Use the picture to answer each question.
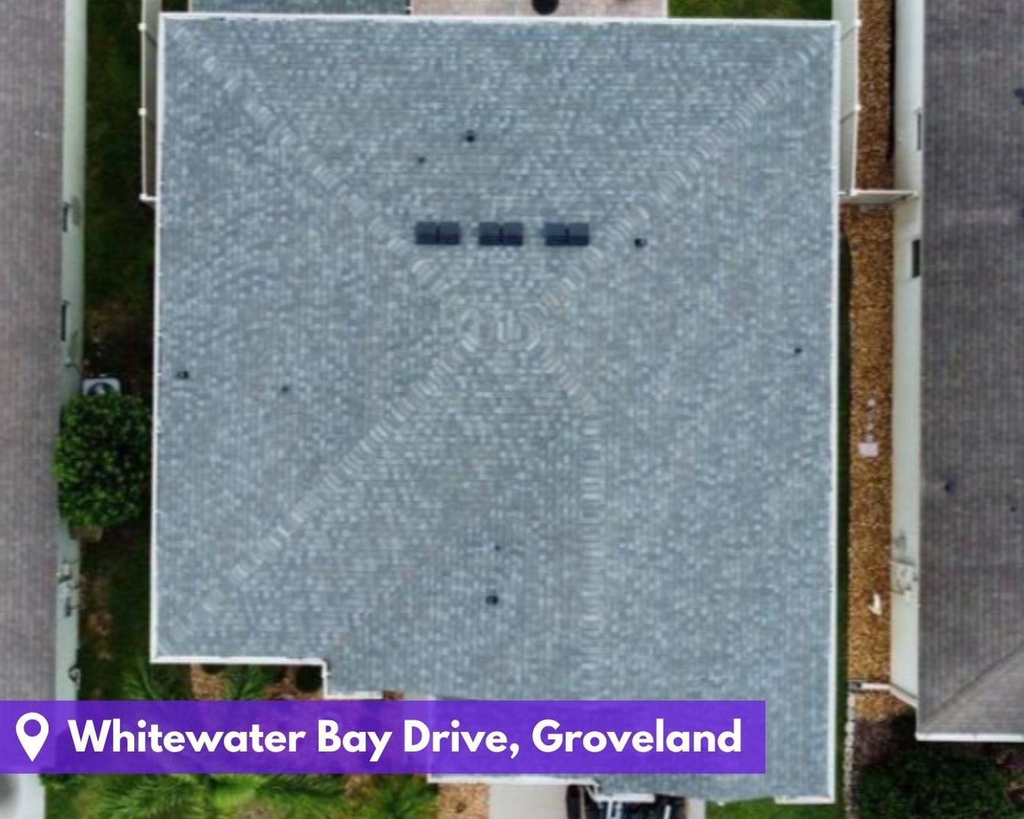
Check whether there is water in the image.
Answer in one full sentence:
No, the picture contains no water.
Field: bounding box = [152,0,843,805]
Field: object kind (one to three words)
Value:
house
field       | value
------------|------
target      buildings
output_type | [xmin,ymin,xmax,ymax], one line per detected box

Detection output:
[846,0,1024,741]
[152,0,843,805]
[0,0,92,770]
